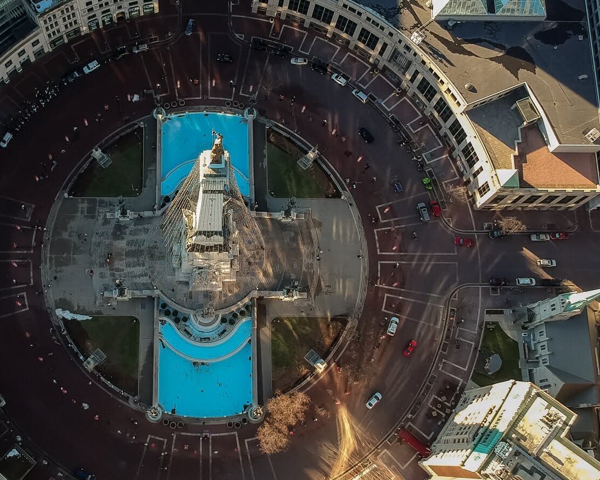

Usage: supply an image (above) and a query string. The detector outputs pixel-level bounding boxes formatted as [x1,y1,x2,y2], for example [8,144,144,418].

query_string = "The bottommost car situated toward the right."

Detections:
[366,392,381,409]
